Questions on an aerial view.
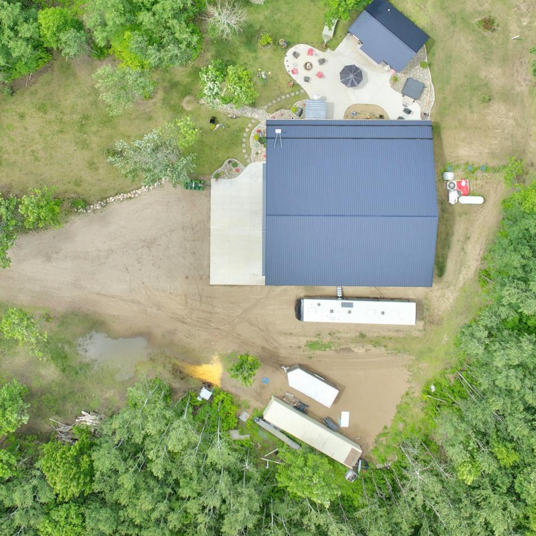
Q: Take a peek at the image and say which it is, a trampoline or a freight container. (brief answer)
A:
freight container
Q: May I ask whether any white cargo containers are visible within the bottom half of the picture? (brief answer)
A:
Yes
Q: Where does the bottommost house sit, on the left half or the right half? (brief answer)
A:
right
